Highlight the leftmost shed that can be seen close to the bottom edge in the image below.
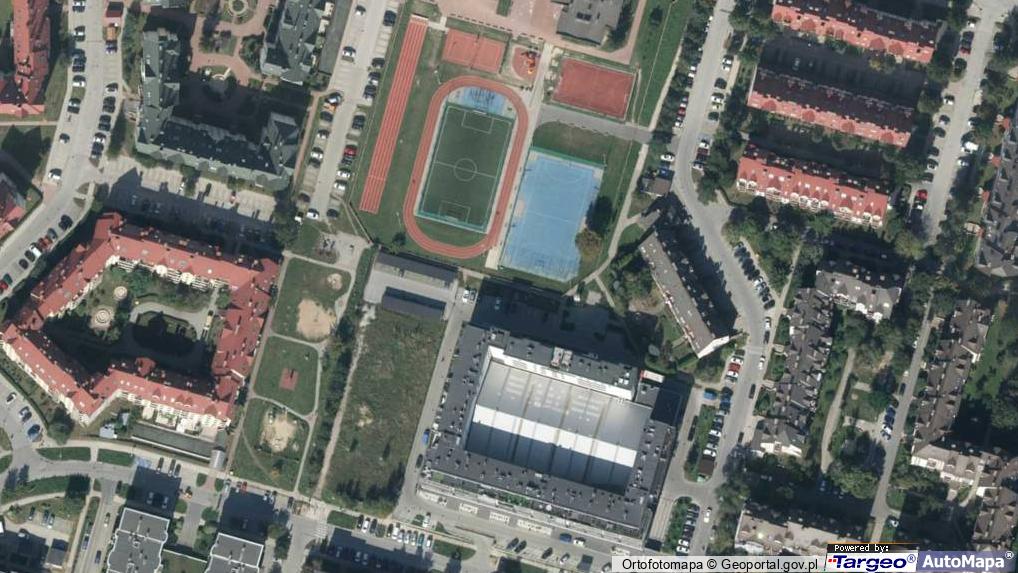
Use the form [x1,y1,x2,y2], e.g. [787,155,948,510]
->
[47,546,68,569]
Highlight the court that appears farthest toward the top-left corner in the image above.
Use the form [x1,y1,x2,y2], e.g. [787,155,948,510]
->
[442,28,477,67]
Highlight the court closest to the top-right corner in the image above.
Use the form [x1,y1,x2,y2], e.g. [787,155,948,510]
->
[552,57,635,118]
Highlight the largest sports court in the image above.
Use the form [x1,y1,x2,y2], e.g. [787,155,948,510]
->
[500,146,605,283]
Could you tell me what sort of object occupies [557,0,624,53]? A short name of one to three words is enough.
building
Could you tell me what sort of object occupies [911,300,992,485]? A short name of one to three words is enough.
house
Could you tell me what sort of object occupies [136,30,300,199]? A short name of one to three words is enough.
house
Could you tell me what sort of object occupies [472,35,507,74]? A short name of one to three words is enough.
tennis court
